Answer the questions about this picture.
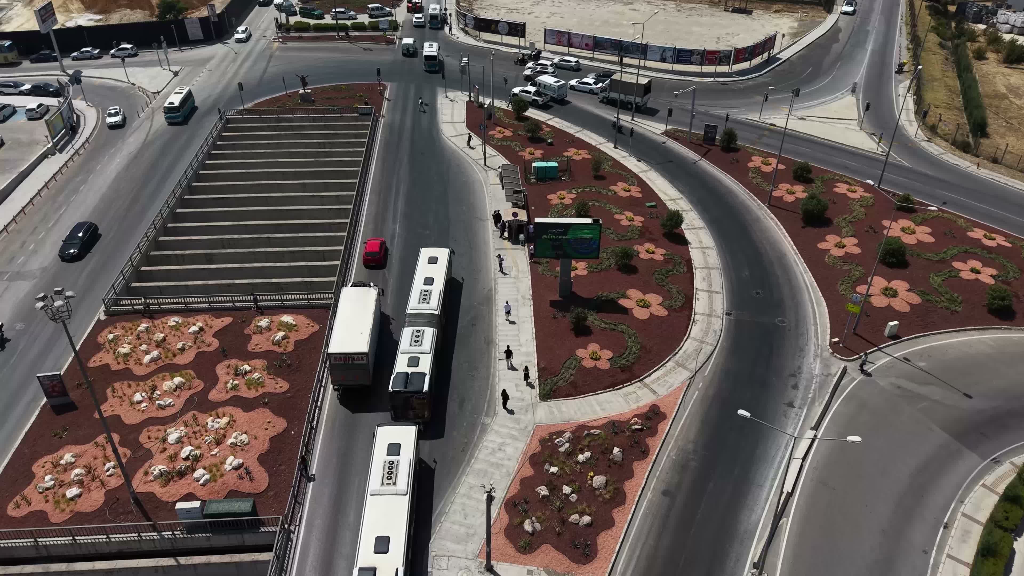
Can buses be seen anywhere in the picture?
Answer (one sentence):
Yes, this view includes a bus.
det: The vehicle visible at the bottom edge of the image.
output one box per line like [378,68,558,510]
[352,425,426,576]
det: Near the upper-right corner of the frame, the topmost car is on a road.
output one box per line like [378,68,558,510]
[843,1,856,15]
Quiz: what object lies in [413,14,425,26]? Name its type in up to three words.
vehicle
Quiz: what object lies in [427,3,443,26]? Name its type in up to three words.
vehicle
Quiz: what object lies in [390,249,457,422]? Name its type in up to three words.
bus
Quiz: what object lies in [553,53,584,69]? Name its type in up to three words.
car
